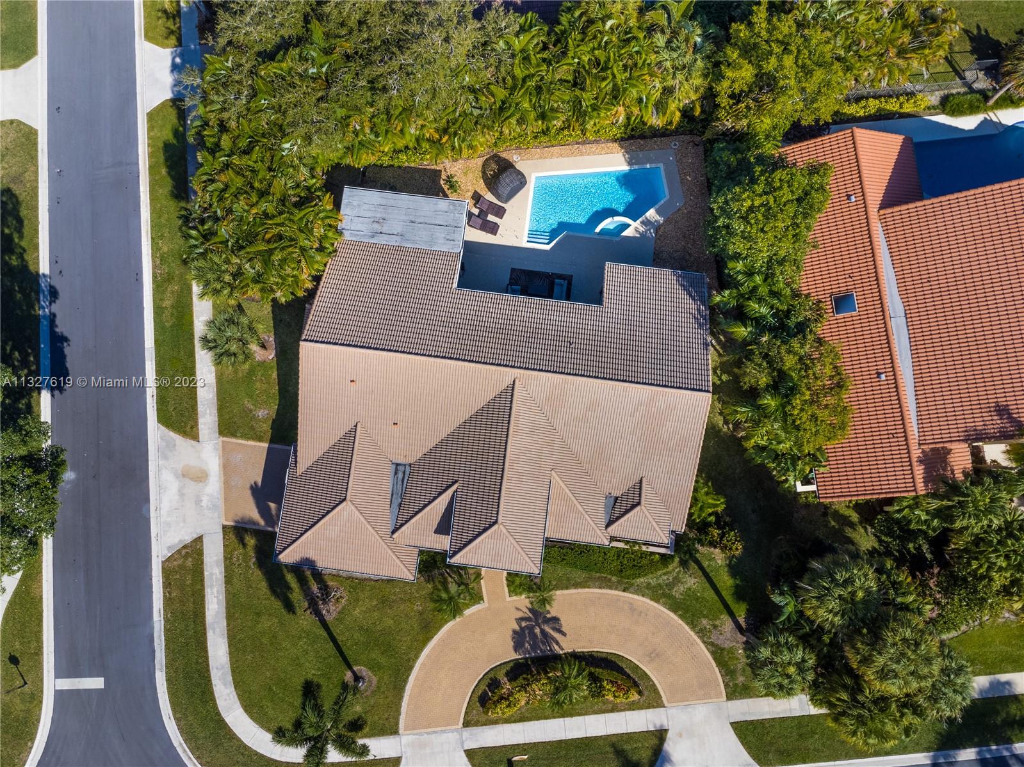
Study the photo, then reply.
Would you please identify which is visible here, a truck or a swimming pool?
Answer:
swimming pool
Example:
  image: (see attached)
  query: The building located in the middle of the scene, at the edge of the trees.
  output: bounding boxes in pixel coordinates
[272,185,712,583]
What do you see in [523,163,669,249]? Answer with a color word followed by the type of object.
blue swimming pool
